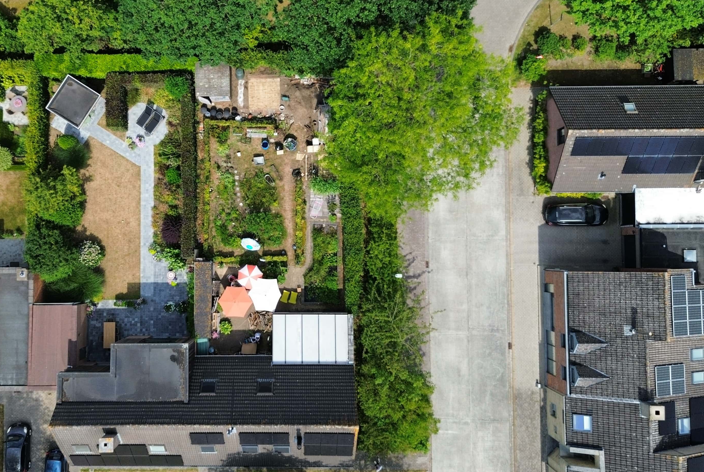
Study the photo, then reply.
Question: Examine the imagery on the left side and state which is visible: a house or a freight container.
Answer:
house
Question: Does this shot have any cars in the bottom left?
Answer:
Yes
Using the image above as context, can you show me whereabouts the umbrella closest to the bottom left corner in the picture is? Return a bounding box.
[219,287,252,317]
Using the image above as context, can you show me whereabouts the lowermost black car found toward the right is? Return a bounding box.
[544,196,606,227]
